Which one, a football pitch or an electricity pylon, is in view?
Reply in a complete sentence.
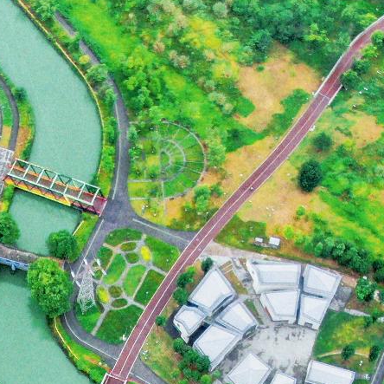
Of the two, only an electricity pylon appears.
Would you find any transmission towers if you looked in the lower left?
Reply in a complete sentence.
Yes, looking in the lower left, one can make out a transmission tower.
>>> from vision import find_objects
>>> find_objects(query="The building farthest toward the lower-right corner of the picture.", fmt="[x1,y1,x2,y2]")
[305,358,356,384]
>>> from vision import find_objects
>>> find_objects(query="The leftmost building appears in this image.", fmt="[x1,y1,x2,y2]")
[173,304,208,343]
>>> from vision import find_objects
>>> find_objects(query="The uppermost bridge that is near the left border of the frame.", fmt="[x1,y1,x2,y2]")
[0,159,114,217]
